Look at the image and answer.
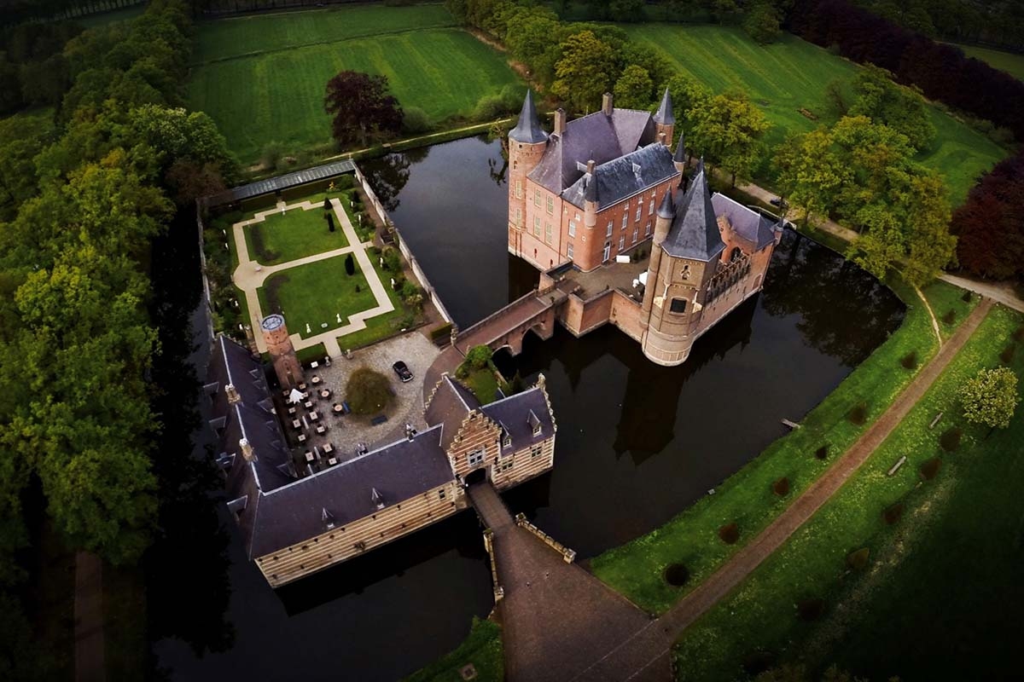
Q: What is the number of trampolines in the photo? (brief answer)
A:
none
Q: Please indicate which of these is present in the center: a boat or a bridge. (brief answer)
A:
bridge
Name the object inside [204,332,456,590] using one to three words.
building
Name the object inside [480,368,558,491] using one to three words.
building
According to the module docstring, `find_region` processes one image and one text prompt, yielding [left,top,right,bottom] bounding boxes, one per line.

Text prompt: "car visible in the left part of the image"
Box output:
[393,362,412,383]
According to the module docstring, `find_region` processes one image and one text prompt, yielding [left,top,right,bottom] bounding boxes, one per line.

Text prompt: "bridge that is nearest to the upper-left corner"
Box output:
[462,287,555,360]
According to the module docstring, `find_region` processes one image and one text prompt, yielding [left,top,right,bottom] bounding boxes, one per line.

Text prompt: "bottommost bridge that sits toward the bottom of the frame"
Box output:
[467,481,520,546]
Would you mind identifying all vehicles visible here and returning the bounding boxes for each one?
[768,198,789,209]
[393,362,412,383]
